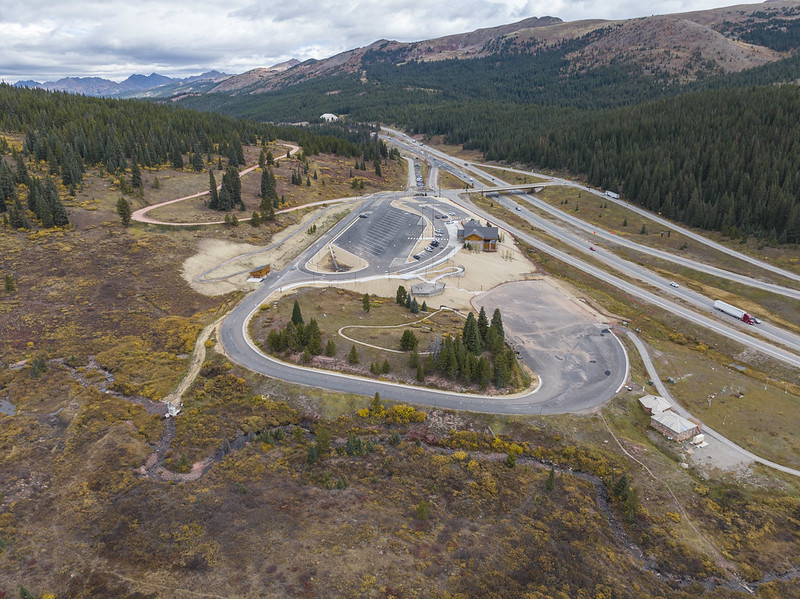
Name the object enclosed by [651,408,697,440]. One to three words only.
building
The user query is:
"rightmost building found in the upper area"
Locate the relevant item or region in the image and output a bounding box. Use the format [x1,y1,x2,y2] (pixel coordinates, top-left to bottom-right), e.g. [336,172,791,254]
[452,219,498,251]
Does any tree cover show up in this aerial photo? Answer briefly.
Yes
